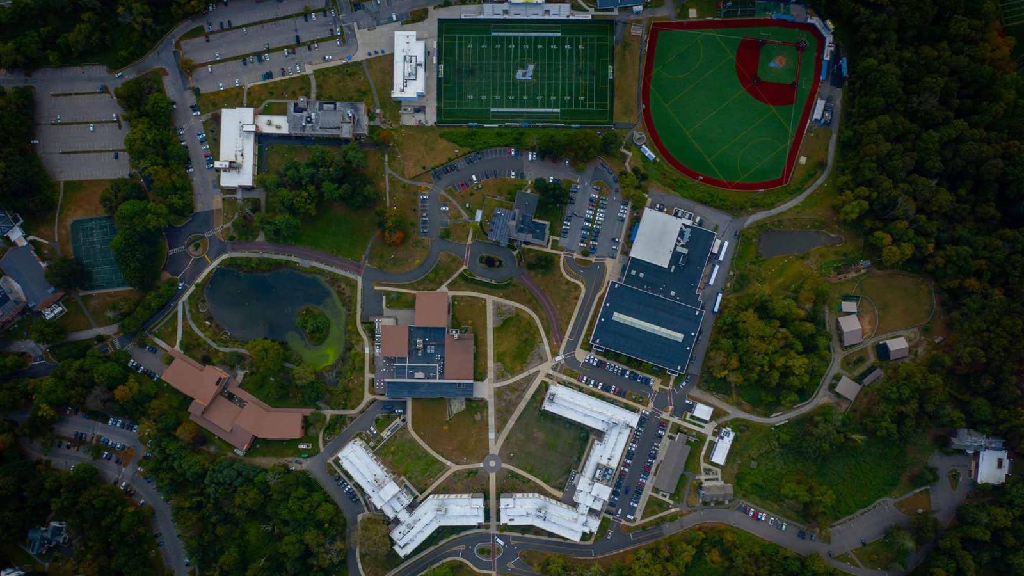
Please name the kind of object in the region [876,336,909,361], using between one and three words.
barn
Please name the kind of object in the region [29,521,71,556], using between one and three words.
house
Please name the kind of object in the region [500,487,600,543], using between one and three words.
building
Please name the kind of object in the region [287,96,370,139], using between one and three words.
building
